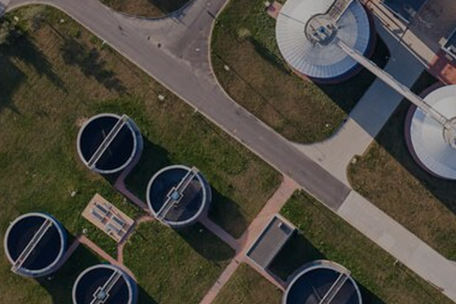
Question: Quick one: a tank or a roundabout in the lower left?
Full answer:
Looking in the lower left, you will find a tank.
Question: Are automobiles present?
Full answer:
No, no automobile is visible in the view.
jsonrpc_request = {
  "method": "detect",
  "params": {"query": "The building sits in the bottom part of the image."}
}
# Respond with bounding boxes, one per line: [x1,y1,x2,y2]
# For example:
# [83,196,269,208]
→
[247,212,299,269]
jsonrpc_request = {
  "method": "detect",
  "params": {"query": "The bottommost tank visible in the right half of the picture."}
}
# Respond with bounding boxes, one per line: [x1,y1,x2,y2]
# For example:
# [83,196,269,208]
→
[278,254,368,304]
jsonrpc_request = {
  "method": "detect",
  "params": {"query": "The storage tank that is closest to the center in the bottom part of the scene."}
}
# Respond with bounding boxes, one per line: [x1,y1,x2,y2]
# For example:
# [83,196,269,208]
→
[145,162,211,226]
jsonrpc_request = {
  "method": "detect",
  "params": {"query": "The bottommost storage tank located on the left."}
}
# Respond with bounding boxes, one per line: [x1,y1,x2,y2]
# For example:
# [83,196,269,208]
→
[72,260,137,304]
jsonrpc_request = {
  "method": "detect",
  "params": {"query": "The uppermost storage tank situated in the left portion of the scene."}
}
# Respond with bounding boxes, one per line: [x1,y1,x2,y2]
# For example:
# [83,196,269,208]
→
[77,111,141,175]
